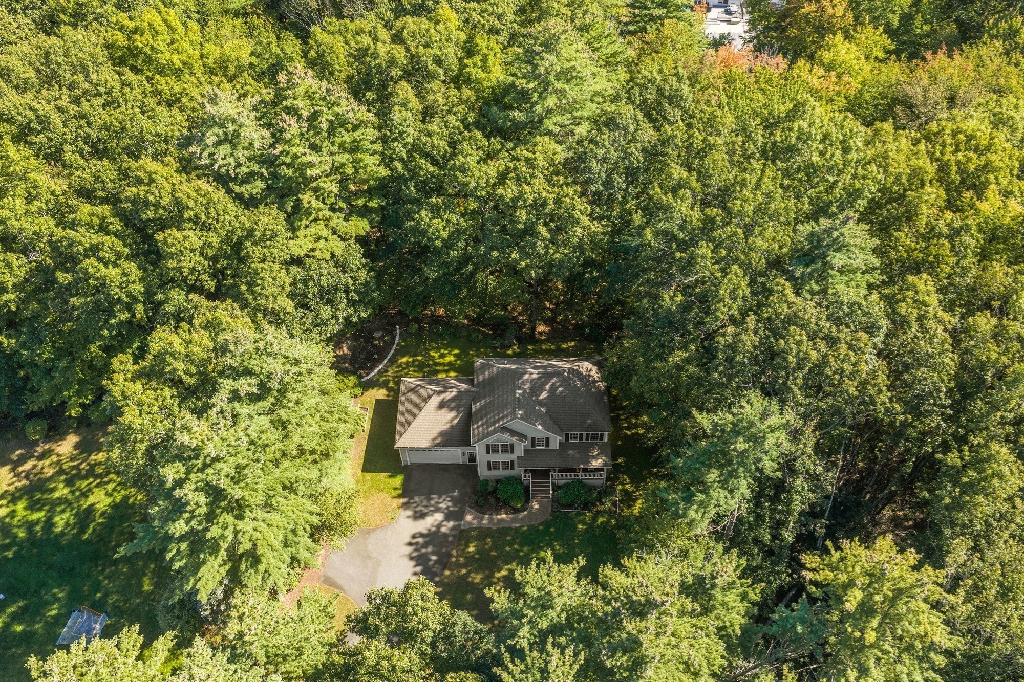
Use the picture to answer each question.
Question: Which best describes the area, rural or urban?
rural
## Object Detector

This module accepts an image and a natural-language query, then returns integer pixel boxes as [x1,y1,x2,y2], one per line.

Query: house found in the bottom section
[393,356,612,500]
